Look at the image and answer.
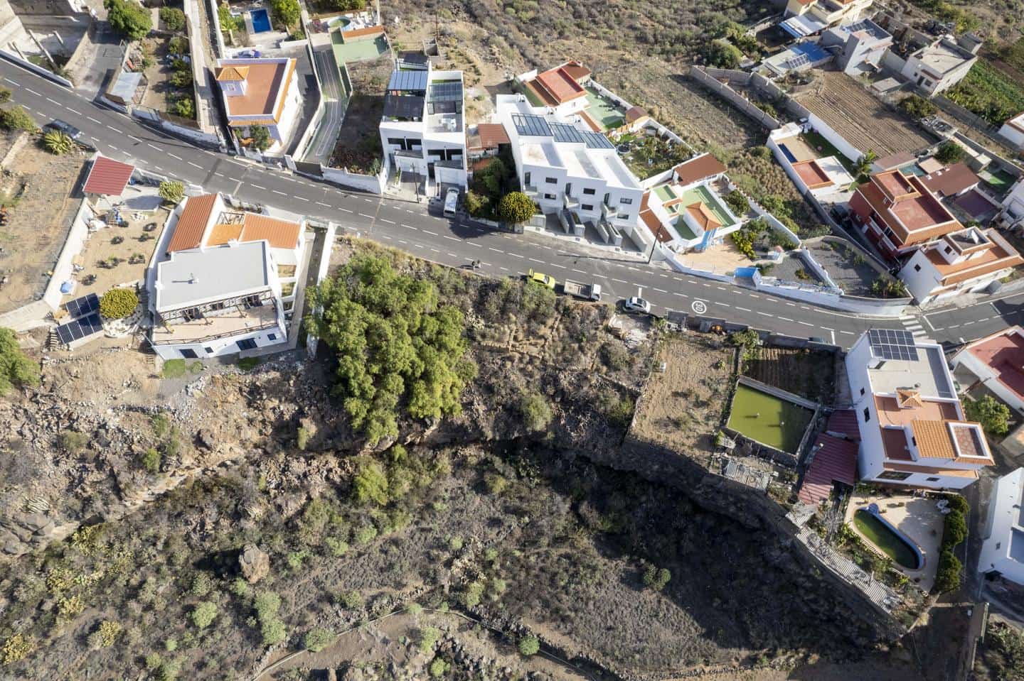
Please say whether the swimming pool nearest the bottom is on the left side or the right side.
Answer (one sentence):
You can find the swimming pool nearest the bottom on the right side of the picture.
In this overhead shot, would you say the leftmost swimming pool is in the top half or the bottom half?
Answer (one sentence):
The leftmost swimming pool sits in the top half of the picture.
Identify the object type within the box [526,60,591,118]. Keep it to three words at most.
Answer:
house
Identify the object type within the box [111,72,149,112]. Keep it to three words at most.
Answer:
shed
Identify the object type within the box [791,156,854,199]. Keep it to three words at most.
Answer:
house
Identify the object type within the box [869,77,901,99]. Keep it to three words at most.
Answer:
shed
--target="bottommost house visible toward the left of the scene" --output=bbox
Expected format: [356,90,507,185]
[150,193,313,359]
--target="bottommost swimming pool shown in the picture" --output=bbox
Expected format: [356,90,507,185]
[850,504,924,573]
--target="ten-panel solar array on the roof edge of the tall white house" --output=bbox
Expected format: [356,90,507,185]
[868,329,919,362]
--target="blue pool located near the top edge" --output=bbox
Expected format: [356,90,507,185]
[249,8,275,35]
